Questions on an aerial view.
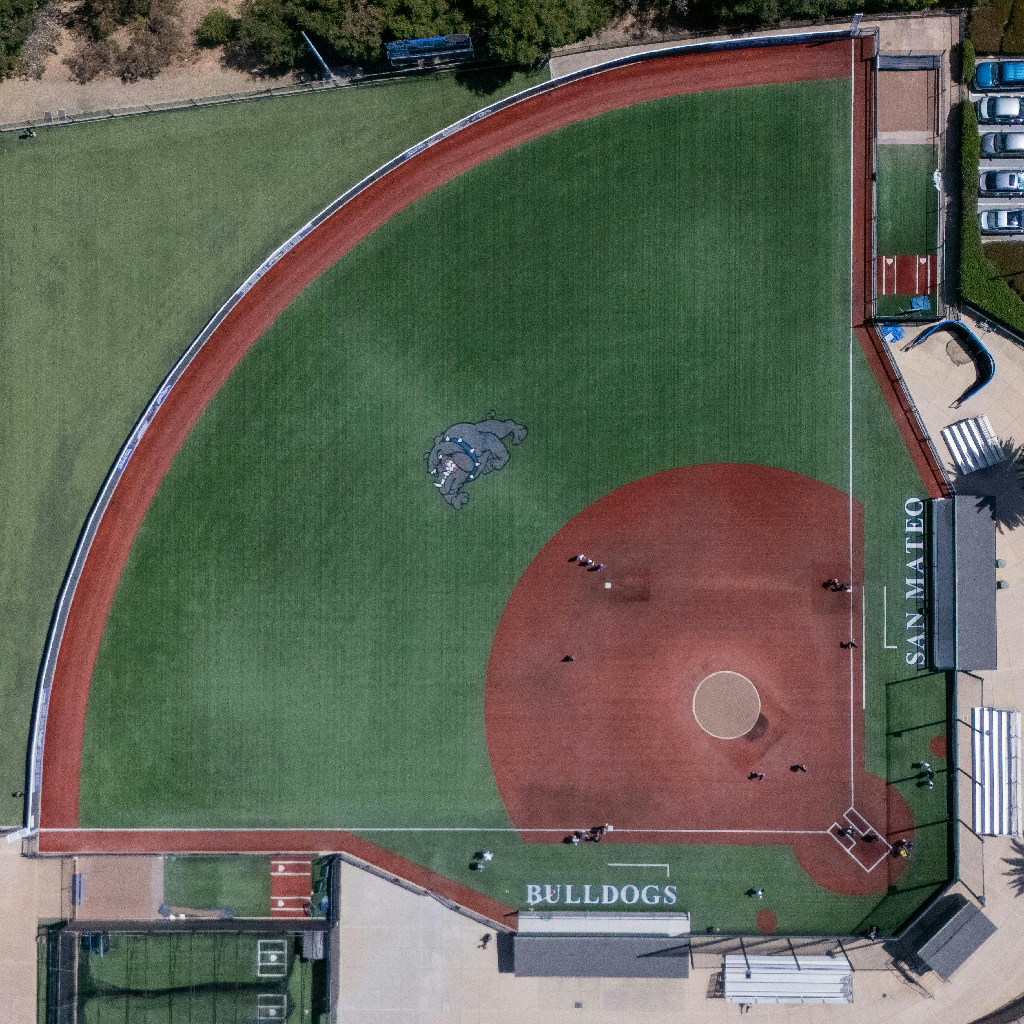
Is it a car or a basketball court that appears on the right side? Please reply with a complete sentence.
The feature located on the right side is a car.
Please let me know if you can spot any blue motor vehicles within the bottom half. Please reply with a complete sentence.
No, I see no blue motor vehicle within the bottom half.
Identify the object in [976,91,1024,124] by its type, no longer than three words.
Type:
car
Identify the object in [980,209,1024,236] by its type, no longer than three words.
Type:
car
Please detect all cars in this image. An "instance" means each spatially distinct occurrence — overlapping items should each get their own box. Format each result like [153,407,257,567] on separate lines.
[976,91,1024,124]
[979,169,1024,197]
[980,209,1024,236]
[979,127,1024,159]
[974,56,1024,92]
